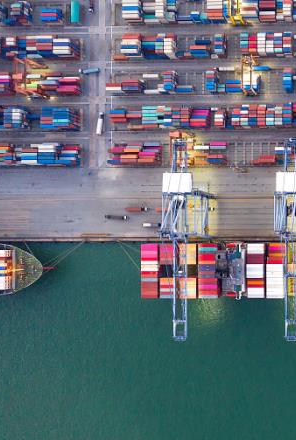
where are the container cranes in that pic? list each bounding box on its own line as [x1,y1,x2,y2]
[273,140,296,342]
[227,0,247,28]
[161,135,218,342]
[13,57,45,98]
[240,57,260,100]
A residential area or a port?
port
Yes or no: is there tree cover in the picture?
No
